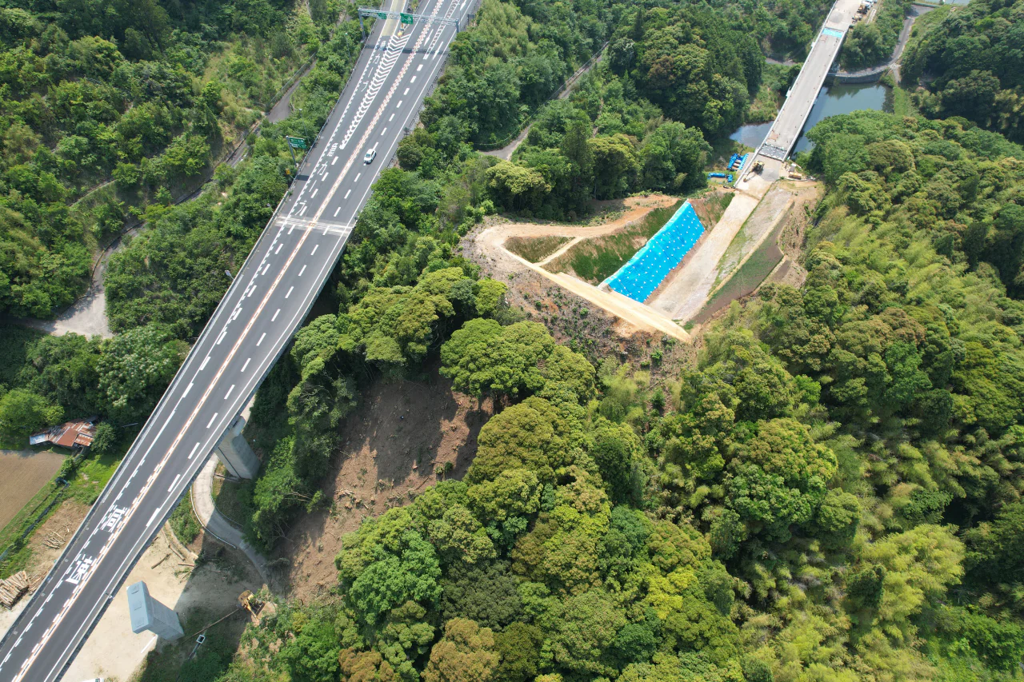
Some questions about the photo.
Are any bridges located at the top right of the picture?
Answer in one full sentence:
Yes, at the top right of the picture there is a bridge.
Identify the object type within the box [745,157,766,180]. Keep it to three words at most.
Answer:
work vehicle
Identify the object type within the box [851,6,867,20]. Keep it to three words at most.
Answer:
vehicle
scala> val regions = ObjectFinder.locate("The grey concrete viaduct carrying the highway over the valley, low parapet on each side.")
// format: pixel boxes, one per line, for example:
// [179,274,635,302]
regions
[0,237,353,682]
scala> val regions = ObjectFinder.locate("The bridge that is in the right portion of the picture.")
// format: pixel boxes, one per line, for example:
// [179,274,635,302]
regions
[737,0,848,192]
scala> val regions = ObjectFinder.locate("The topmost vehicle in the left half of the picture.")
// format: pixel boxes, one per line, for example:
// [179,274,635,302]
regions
[361,147,376,163]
